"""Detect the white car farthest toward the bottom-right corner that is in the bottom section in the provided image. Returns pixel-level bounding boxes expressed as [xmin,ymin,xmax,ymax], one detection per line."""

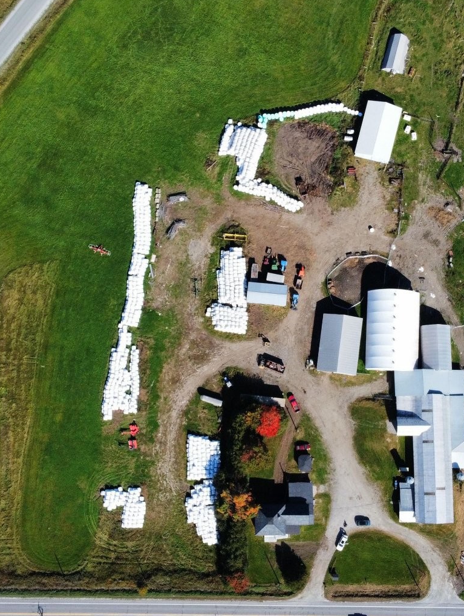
[336,532,349,550]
